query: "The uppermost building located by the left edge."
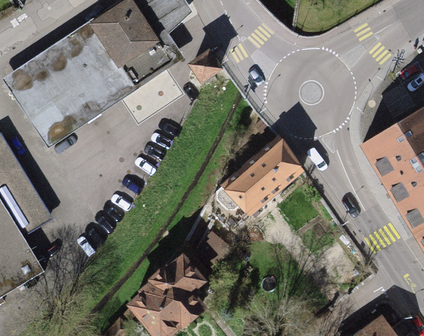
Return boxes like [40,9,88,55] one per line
[2,18,136,146]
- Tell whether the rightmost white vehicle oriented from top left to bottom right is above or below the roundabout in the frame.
below it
